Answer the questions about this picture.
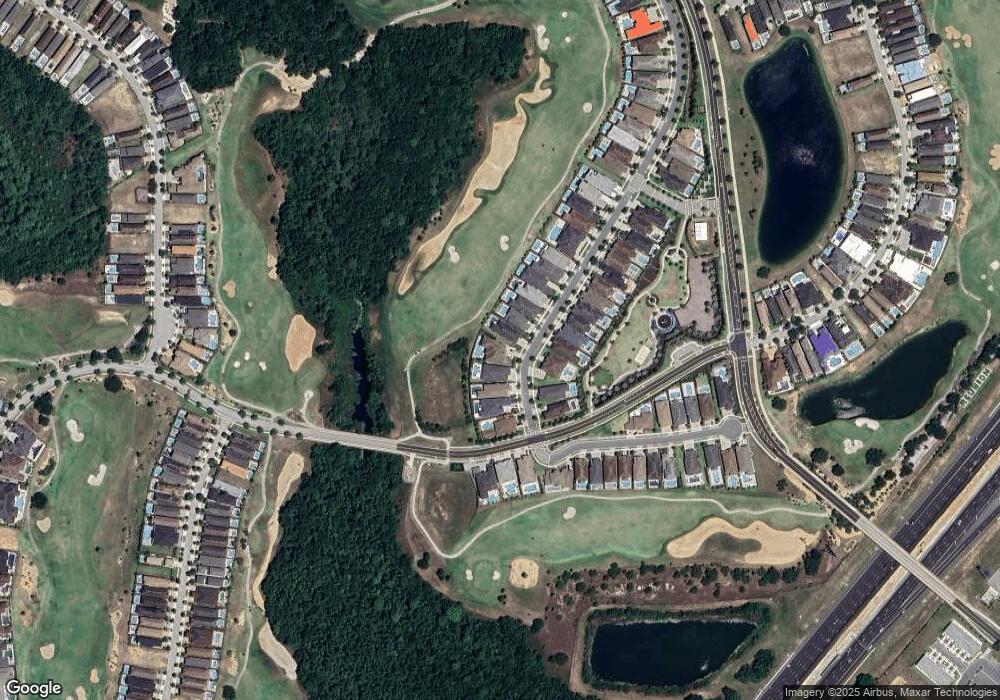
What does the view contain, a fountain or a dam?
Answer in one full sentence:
Looking from above, you can make out a fountain.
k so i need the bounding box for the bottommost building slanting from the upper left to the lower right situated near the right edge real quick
[915,654,958,690]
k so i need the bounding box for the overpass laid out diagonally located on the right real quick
[855,516,960,607]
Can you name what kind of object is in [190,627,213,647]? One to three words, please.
house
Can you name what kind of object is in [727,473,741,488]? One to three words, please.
swimming pool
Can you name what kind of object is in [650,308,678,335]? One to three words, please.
fountain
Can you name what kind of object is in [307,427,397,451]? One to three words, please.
bridge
